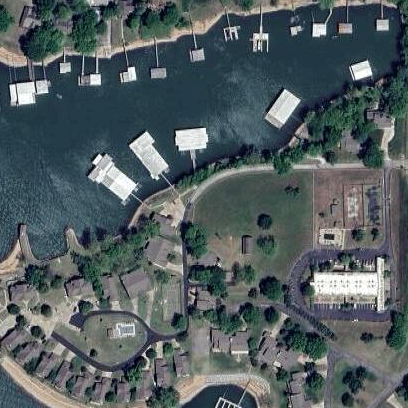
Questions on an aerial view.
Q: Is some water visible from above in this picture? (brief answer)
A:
Yes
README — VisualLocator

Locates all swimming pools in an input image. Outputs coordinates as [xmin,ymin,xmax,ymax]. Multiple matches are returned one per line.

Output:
[116,322,136,336]
[319,228,345,248]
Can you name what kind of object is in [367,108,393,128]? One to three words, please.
house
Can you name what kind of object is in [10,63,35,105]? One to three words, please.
pier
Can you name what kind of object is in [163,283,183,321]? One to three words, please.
sports court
